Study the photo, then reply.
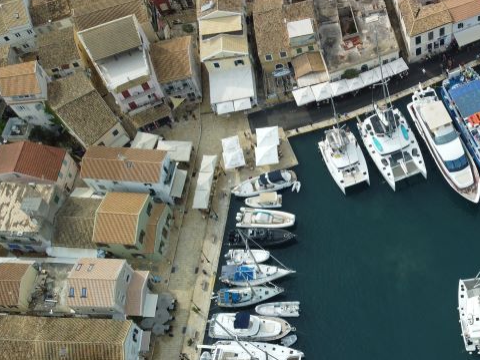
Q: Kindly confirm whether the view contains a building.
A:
Yes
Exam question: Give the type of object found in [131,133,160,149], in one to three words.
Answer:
umbrella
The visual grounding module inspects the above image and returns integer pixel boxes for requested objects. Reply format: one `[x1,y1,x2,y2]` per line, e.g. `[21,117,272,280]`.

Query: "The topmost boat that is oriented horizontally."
[231,169,301,194]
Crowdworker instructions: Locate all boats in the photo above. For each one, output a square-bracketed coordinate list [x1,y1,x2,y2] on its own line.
[231,169,301,194]
[235,211,296,228]
[359,34,426,194]
[257,302,304,316]
[246,192,284,210]
[189,313,301,344]
[214,232,306,287]
[185,317,304,360]
[398,81,480,215]
[293,178,302,192]
[457,273,480,354]
[212,267,285,306]
[225,227,295,245]
[281,336,297,348]
[320,96,371,203]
